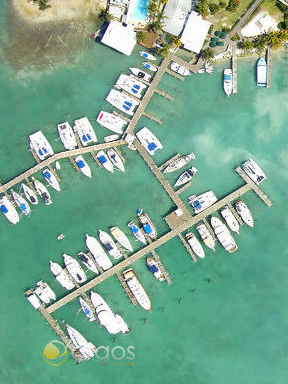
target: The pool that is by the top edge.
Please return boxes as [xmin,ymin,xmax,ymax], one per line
[127,0,151,28]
